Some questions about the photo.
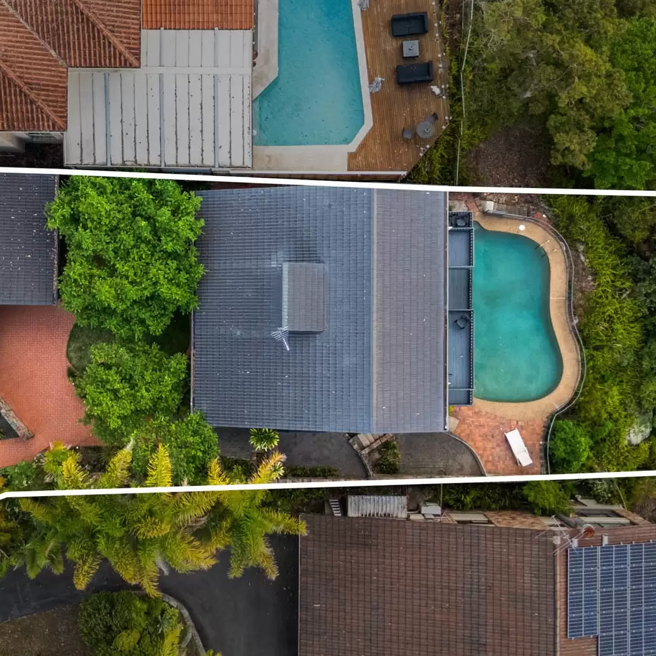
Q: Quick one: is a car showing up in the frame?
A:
No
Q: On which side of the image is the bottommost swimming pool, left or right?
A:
right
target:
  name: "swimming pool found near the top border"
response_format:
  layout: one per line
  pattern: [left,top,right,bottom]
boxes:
[254,0,372,155]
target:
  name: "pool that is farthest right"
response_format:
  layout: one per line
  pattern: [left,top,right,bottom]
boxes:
[450,208,580,421]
